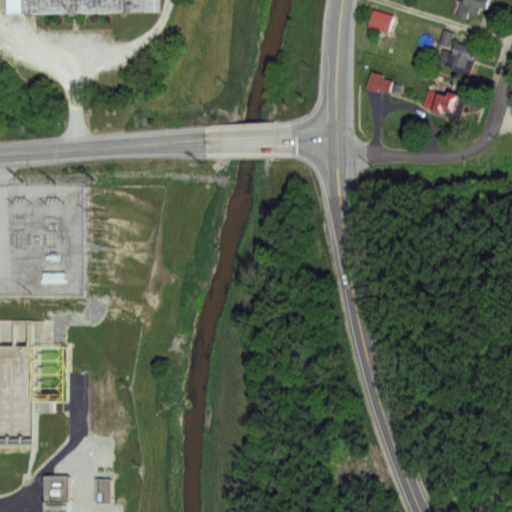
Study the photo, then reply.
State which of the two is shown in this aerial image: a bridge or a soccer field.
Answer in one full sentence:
There is a bridge in the scene.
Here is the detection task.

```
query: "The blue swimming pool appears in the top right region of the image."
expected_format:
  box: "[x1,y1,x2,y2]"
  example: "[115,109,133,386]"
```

[418,32,438,49]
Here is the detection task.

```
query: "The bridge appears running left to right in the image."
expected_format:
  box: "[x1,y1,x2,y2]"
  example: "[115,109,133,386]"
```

[205,122,293,159]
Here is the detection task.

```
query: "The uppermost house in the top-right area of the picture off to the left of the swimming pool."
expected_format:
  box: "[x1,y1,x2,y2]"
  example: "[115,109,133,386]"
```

[368,8,399,38]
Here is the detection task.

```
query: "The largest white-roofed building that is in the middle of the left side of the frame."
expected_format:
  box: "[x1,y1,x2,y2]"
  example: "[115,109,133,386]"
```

[40,271,66,286]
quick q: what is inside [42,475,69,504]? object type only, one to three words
building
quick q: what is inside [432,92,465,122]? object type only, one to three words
house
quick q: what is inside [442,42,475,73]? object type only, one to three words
house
